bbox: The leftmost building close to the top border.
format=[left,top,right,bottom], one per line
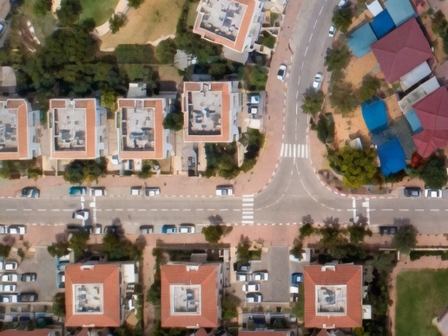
[193,0,275,49]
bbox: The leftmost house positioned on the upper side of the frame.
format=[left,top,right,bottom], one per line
[0,98,50,158]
